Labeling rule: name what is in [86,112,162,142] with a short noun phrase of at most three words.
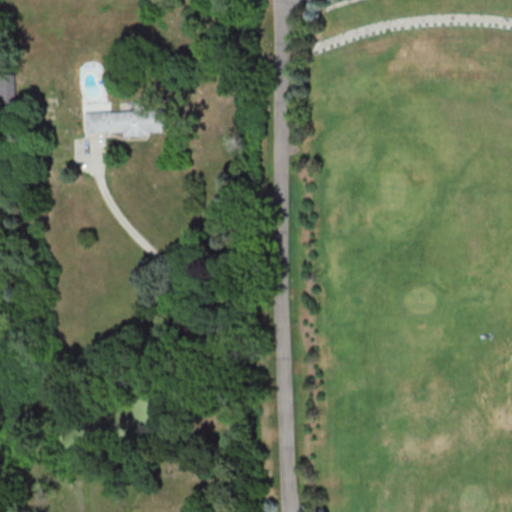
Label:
house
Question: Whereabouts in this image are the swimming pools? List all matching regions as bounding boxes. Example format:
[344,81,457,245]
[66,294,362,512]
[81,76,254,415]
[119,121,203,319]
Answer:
[80,61,112,135]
